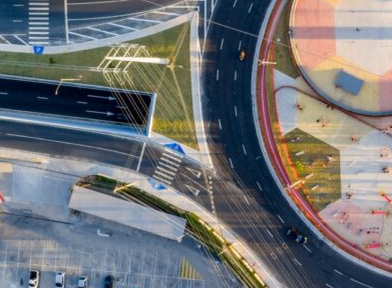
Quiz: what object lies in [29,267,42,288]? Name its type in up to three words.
vehicle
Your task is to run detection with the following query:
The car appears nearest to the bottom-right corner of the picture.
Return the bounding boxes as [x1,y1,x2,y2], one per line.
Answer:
[286,228,307,244]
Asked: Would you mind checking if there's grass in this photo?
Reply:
Yes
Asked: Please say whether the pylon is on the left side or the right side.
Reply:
left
